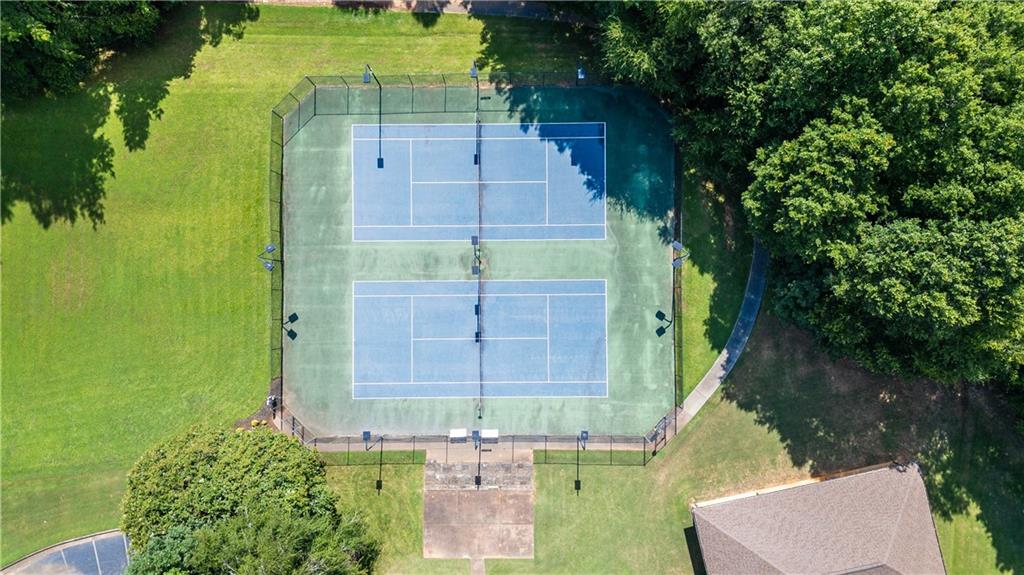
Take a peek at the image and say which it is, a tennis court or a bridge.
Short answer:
tennis court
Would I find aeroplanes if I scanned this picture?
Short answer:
No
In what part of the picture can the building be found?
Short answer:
bottom right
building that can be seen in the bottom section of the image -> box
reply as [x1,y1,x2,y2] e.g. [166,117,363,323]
[691,460,942,575]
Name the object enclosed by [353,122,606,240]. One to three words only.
tennis court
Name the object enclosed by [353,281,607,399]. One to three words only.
tennis court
